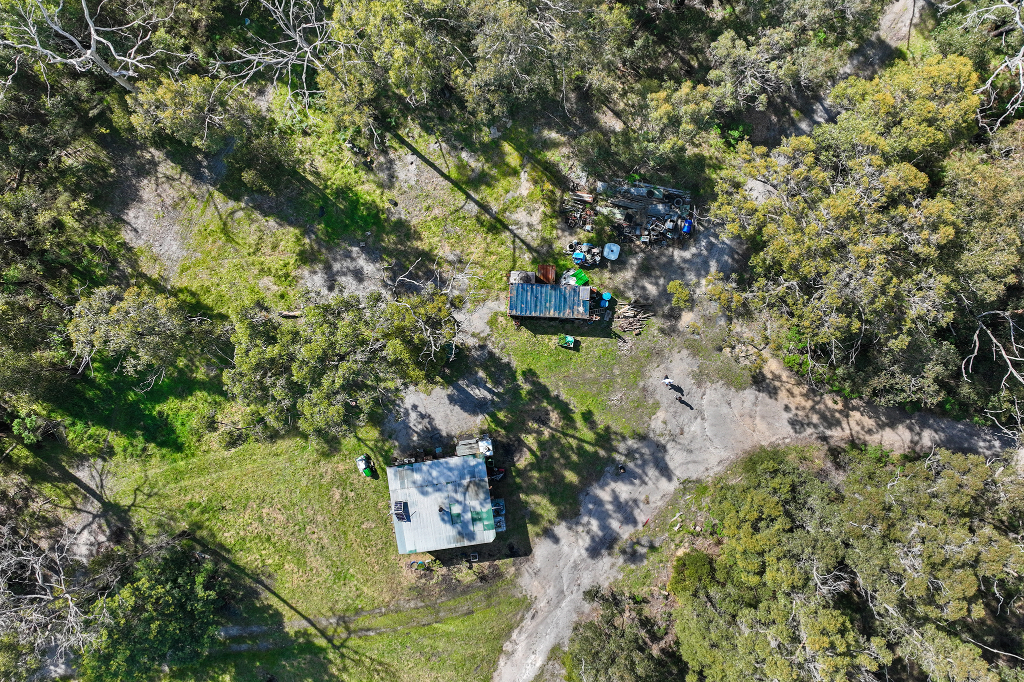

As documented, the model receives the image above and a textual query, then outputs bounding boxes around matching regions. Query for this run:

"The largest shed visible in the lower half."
[386,451,496,554]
